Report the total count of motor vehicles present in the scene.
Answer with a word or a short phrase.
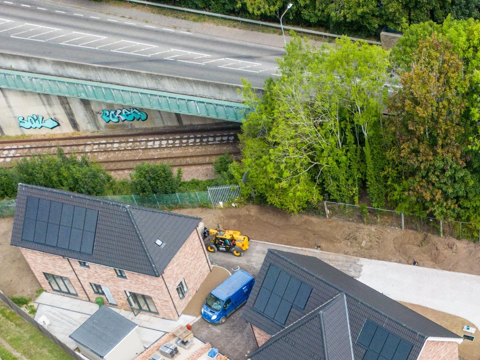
2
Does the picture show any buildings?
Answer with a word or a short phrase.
Yes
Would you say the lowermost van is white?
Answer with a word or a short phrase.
No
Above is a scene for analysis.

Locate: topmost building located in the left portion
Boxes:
[10,182,214,318]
